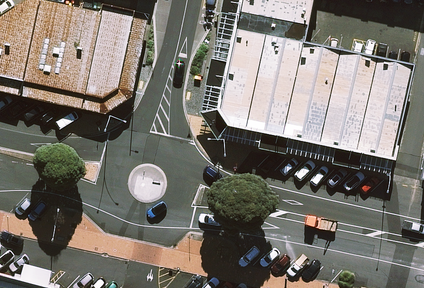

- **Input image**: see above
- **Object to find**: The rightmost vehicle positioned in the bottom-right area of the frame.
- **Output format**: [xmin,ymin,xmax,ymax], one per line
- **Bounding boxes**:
[401,220,424,236]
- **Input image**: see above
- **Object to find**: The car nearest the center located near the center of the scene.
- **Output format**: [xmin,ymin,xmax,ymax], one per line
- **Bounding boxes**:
[199,162,224,180]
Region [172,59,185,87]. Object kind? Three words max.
vehicle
